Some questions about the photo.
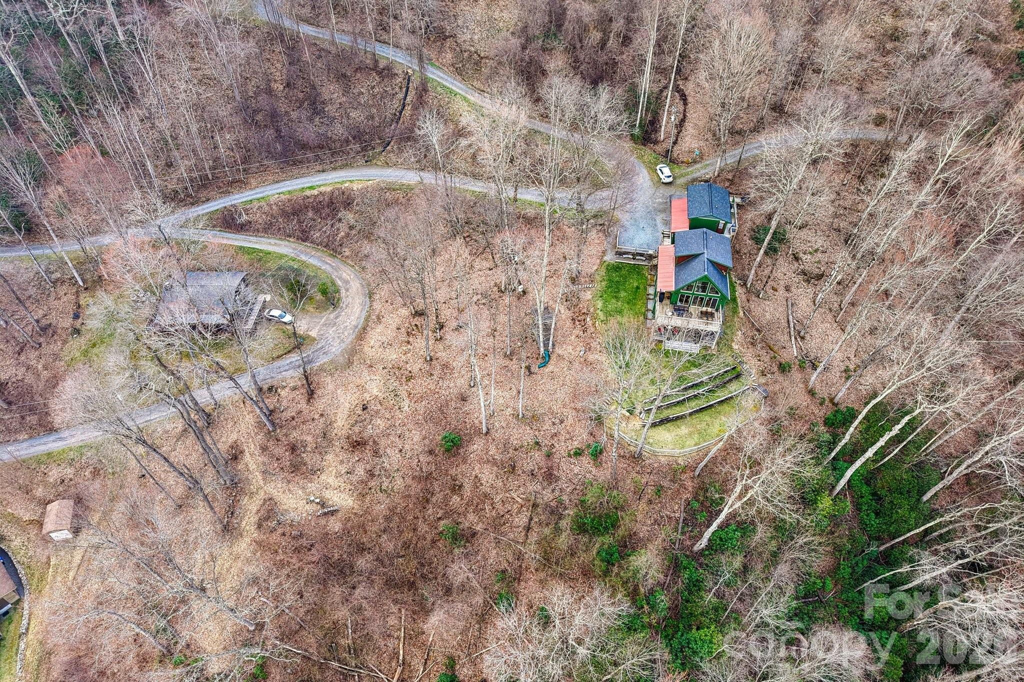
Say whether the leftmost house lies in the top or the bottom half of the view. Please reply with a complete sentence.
The leftmost house sits in the bottom half of the picture.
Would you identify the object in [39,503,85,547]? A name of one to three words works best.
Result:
shed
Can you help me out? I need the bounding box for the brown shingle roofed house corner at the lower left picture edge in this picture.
[0,561,33,630]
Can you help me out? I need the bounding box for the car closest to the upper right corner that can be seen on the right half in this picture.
[658,166,674,181]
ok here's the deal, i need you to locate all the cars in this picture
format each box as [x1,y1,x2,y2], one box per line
[263,310,293,326]
[658,166,674,181]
